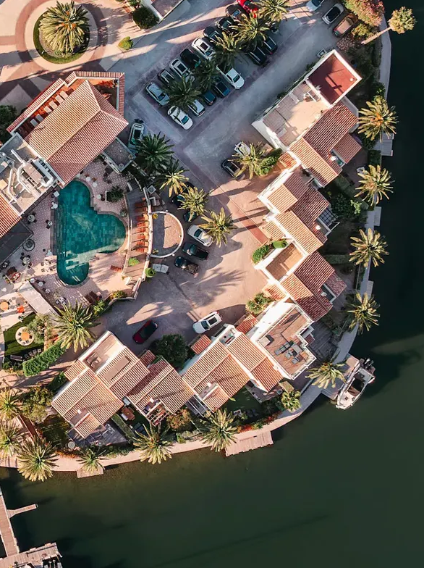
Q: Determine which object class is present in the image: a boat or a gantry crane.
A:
boat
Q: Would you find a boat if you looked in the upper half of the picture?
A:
No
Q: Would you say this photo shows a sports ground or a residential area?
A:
residential area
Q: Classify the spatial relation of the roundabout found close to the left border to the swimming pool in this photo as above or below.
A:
above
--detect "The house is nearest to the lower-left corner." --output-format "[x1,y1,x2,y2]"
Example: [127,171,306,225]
[49,366,125,438]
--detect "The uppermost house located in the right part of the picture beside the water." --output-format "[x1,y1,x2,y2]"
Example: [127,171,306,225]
[245,49,365,189]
